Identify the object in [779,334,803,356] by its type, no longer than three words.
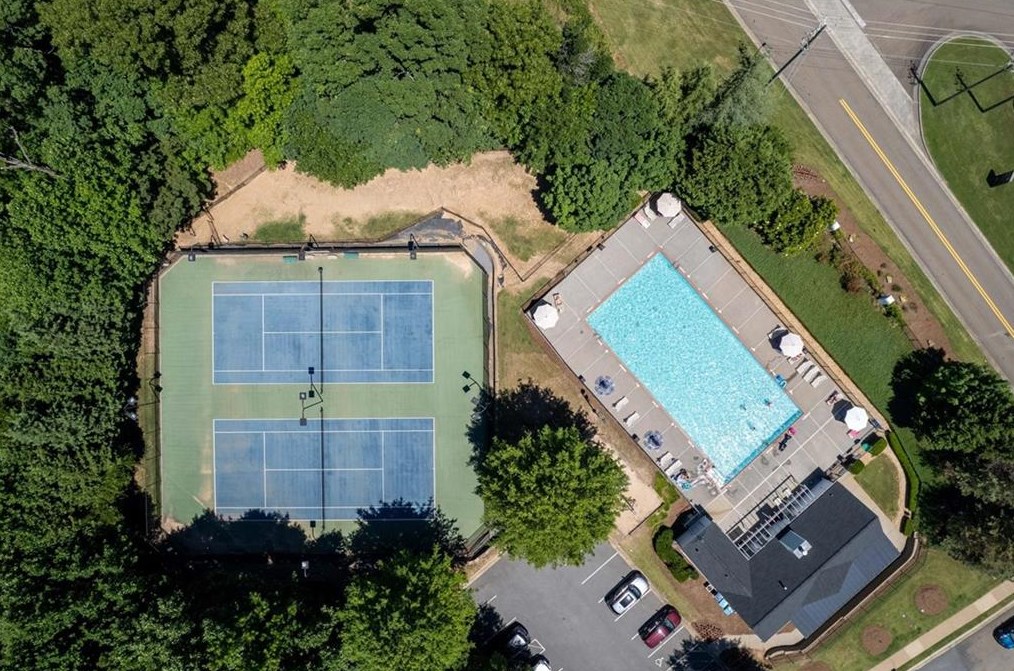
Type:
umbrella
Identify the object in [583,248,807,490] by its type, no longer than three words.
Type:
swimming pool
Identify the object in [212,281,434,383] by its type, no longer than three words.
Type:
tennis court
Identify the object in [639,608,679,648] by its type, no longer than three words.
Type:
car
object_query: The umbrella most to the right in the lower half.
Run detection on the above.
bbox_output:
[844,406,868,431]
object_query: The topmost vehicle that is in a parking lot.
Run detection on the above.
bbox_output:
[604,573,647,615]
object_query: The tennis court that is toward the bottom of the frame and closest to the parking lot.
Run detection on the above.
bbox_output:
[214,419,435,521]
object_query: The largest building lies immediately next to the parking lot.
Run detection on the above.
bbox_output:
[674,481,900,641]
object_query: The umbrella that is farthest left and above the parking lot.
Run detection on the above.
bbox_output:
[534,304,558,329]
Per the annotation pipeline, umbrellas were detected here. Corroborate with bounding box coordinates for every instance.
[844,406,868,431]
[779,334,803,356]
[658,194,680,217]
[534,304,558,329]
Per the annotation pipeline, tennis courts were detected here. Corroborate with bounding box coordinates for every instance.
[212,281,434,383]
[214,419,435,521]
